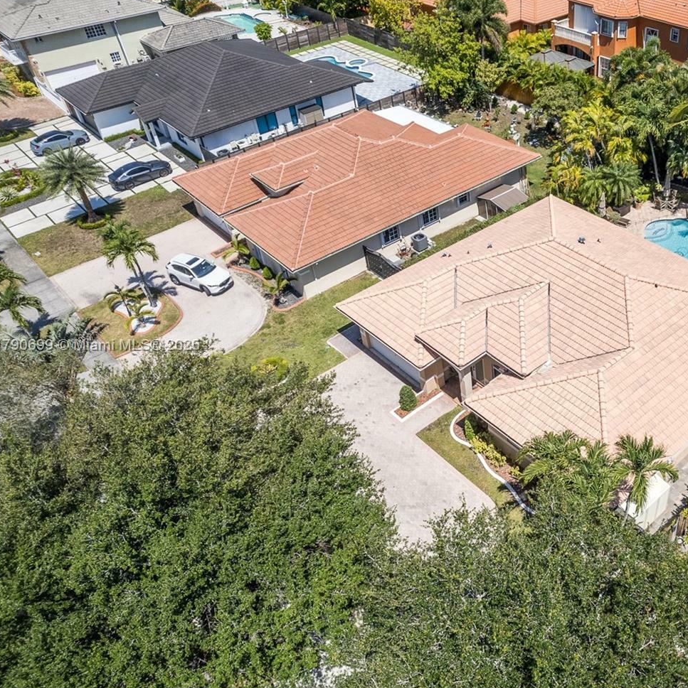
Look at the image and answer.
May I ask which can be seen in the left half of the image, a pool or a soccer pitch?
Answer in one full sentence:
You can see a pool in the left half of the image.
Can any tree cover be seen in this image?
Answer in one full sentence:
Yes, the picture does contain tree cover.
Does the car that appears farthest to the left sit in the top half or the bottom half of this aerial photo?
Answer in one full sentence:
The top half of the photo is where the car that appears farthest to the left is.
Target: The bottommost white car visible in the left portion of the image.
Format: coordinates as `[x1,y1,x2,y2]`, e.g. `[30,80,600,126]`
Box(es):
[160,250,236,297]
